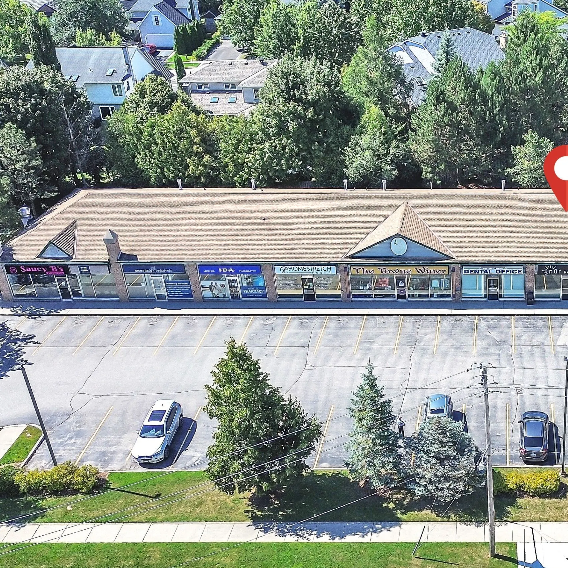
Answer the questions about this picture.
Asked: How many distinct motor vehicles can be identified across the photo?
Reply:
three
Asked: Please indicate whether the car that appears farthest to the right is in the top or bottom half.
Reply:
bottom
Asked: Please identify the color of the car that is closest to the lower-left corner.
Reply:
white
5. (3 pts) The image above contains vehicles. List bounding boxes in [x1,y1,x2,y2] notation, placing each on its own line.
[137,388,195,455]
[421,393,460,427]
[513,402,551,454]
